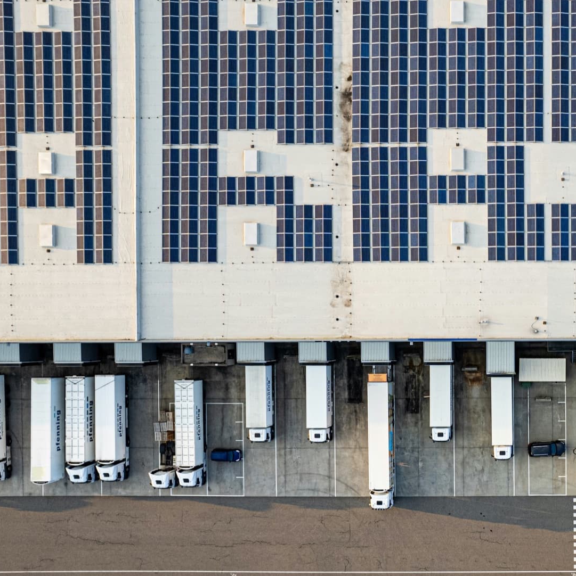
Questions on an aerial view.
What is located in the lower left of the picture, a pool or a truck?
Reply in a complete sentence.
You can see a truck in the lower left of the picture.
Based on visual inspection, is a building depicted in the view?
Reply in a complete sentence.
Yes, a building can be made out from above.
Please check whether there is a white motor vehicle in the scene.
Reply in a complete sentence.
Yes, a white motor vehicle appears in the view.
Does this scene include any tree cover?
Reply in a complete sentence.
No, there's no tree cover in this view.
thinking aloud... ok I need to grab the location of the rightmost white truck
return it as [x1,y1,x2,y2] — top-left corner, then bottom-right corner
[490,378,515,460]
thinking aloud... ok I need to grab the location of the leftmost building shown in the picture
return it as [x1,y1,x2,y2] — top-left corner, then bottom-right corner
[0,345,44,366]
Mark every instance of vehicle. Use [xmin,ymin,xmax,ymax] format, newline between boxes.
[246,361,276,442]
[64,376,101,483]
[490,378,515,460]
[368,366,395,508]
[528,441,566,458]
[307,365,334,443]
[208,448,242,464]
[173,379,208,487]
[148,440,181,489]
[0,374,14,481]
[429,365,455,442]
[95,374,132,481]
